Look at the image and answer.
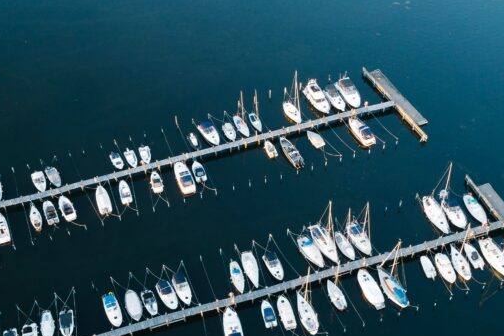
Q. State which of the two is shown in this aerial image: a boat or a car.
boat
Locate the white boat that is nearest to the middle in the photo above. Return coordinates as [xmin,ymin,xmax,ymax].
[260,140,281,171]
